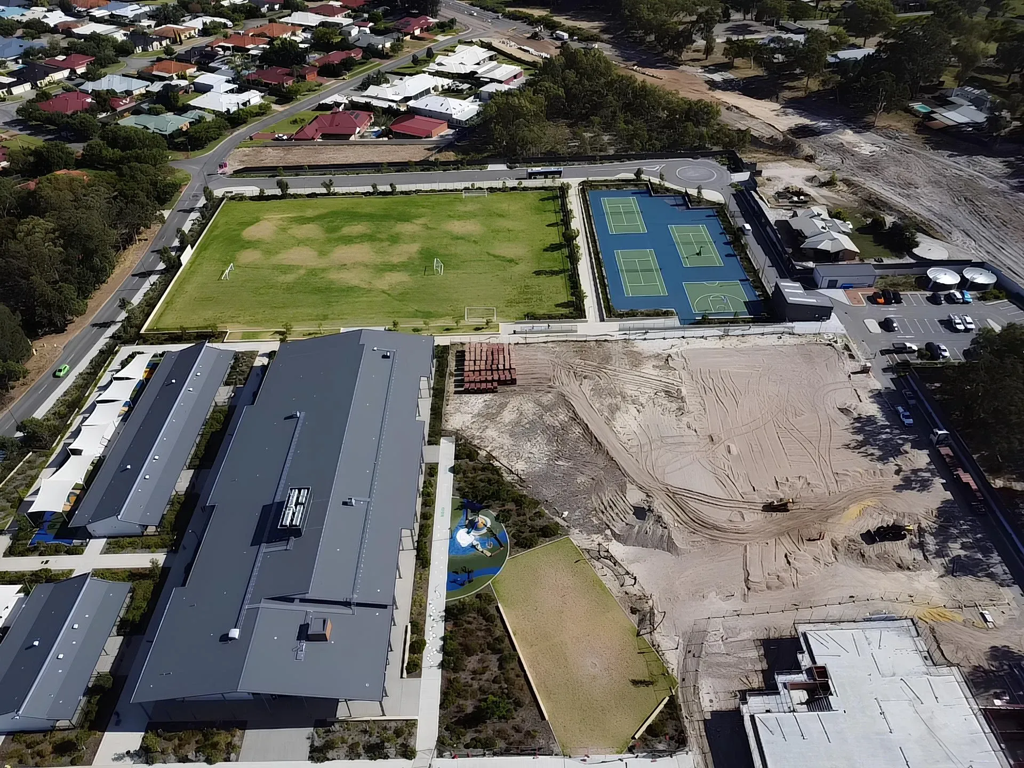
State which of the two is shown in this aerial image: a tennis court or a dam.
tennis court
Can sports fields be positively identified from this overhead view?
Yes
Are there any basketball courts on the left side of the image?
No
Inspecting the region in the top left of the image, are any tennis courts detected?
No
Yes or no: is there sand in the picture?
Yes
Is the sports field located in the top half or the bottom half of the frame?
top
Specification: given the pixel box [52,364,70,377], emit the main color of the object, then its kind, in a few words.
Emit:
green vehicle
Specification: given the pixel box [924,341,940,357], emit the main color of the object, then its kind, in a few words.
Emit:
black car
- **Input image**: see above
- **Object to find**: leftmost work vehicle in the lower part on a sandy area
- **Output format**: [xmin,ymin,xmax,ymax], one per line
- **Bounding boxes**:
[761,495,793,517]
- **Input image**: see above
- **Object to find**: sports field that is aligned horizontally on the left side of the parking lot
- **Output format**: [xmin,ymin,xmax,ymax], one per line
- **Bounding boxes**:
[146,189,584,331]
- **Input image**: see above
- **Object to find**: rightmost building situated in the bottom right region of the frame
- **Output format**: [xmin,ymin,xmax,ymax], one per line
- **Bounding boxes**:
[742,612,1023,768]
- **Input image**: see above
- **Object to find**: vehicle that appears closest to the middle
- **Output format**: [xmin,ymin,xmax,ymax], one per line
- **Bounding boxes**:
[527,165,562,178]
